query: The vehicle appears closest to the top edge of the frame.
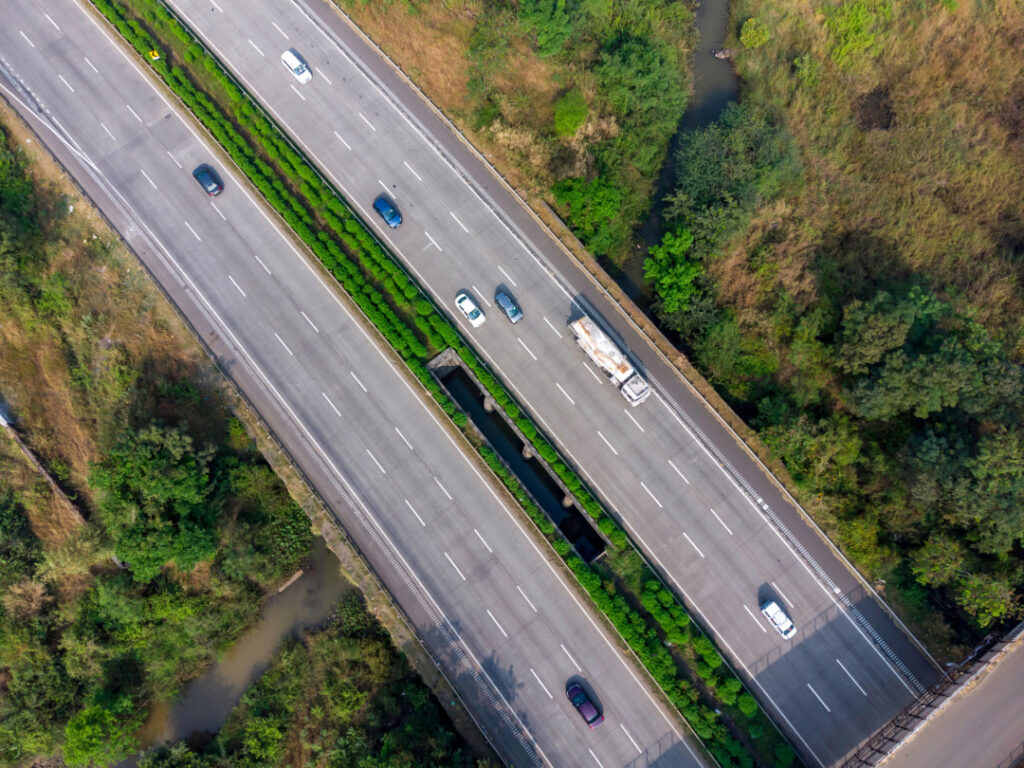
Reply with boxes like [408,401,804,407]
[277,48,312,84]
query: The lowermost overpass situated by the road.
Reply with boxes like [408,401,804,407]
[817,618,1024,768]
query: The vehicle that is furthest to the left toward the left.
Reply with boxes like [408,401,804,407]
[191,165,223,198]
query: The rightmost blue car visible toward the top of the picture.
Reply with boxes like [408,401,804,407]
[492,290,524,323]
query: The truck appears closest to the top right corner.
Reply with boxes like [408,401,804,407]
[570,314,655,405]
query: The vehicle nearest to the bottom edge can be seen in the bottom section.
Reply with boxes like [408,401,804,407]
[564,680,606,730]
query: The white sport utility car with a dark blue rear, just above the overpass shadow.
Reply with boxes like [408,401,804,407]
[755,596,797,642]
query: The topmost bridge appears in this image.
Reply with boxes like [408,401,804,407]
[423,346,611,572]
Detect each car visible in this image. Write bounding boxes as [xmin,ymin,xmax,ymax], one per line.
[453,291,489,329]
[492,290,524,323]
[191,165,223,198]
[277,48,312,84]
[755,596,797,642]
[370,196,403,230]
[564,680,606,730]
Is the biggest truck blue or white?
white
